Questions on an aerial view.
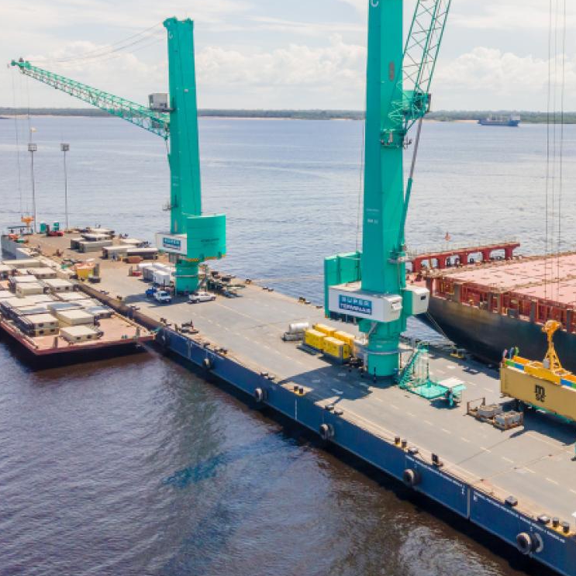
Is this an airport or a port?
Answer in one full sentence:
The area seen from above is a port.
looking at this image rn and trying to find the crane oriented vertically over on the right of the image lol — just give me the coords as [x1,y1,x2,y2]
[318,0,453,377]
